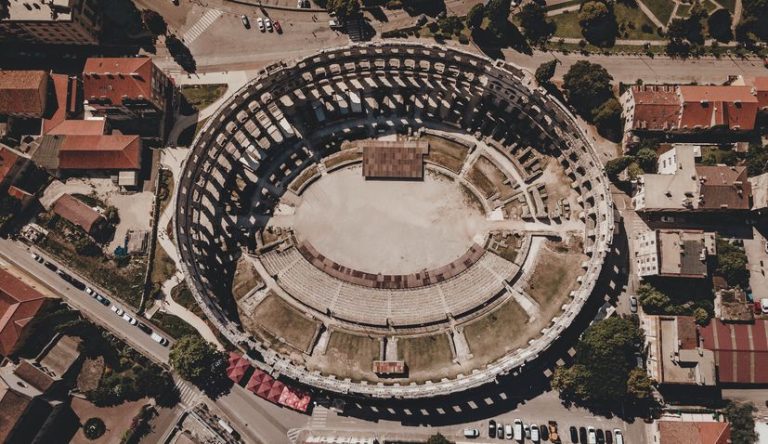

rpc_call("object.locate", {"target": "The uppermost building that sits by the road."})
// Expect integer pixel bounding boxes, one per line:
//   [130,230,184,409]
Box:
[0,0,95,41]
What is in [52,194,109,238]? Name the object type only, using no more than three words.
house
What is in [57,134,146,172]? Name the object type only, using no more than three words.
building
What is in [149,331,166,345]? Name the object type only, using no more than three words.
vehicle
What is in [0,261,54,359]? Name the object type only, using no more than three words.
house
